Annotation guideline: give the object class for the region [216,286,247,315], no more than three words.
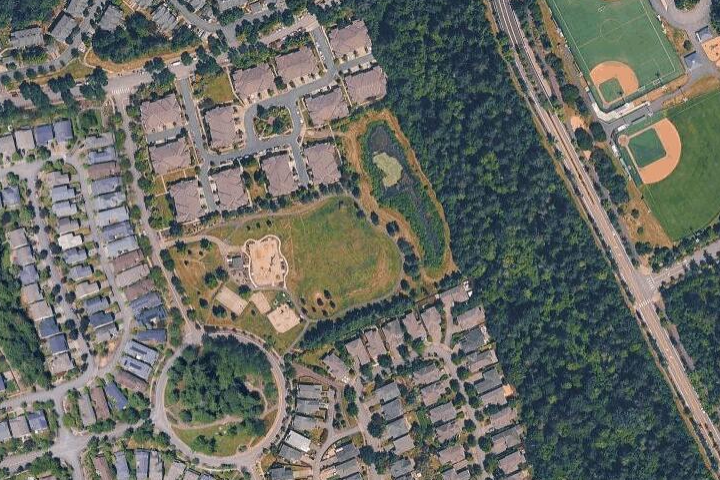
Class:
sports court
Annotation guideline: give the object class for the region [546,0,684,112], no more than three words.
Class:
sports field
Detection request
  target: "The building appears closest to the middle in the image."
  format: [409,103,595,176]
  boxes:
[307,145,340,183]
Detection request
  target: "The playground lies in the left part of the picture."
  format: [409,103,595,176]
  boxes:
[244,234,287,289]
